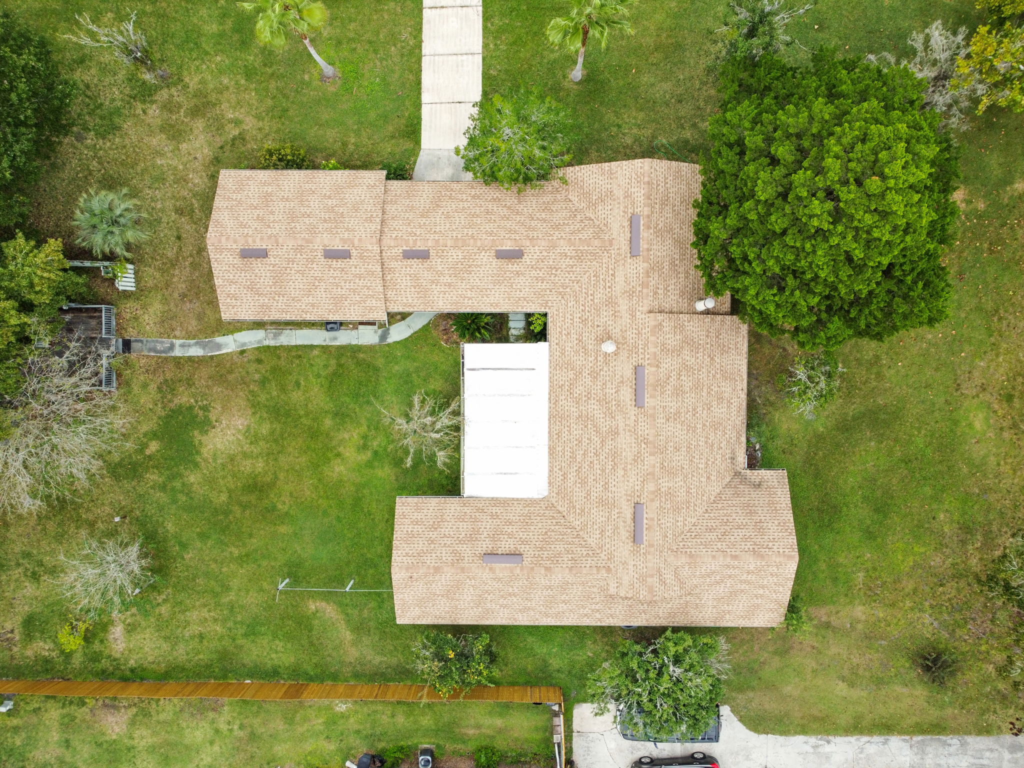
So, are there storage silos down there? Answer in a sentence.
No, I find no storage silo anywhere in the image.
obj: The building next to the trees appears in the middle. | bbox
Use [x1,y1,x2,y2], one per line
[207,158,799,628]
